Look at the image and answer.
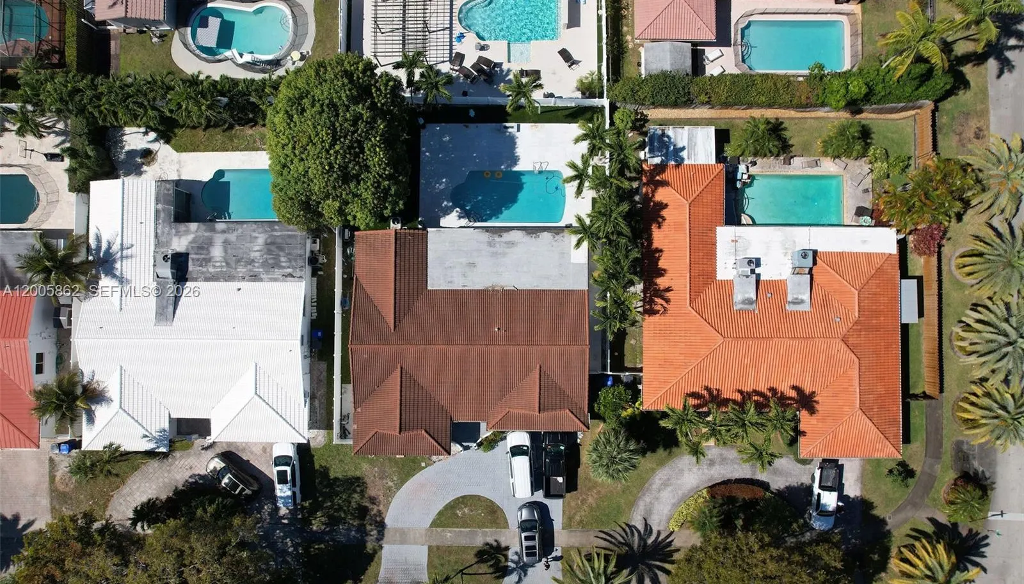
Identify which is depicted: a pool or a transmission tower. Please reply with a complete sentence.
Visible in the photo is a pool.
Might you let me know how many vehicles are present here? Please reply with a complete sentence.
I count 6 vehicles.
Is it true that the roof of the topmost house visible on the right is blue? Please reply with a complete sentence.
No, the roof of the topmost house visible on the right is pink.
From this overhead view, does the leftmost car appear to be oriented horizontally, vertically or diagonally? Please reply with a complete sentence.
The leftmost car is laid out diagonally.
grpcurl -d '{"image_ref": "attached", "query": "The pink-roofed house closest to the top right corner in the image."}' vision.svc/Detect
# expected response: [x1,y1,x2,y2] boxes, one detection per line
[634,0,718,44]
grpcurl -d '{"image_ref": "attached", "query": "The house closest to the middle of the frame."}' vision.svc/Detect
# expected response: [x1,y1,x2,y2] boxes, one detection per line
[348,227,591,457]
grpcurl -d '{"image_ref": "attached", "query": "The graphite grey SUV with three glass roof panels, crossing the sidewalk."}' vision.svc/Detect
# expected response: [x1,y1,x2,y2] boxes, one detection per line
[514,500,544,565]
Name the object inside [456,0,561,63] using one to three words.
swimming pool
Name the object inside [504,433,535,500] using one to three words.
car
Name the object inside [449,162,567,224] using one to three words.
swimming pool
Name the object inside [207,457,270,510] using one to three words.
car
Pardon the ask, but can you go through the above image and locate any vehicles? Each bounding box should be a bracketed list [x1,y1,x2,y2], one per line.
[799,460,842,533]
[504,433,535,500]
[540,433,570,501]
[514,500,544,565]
[207,457,270,510]
[269,442,304,508]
